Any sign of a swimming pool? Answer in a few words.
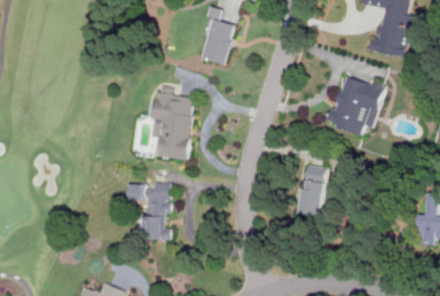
Yes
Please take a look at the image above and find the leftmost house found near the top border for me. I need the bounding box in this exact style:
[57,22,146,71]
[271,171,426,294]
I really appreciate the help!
[201,6,236,65]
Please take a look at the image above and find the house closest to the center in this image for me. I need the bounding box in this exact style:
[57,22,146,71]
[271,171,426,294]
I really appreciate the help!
[150,86,194,162]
